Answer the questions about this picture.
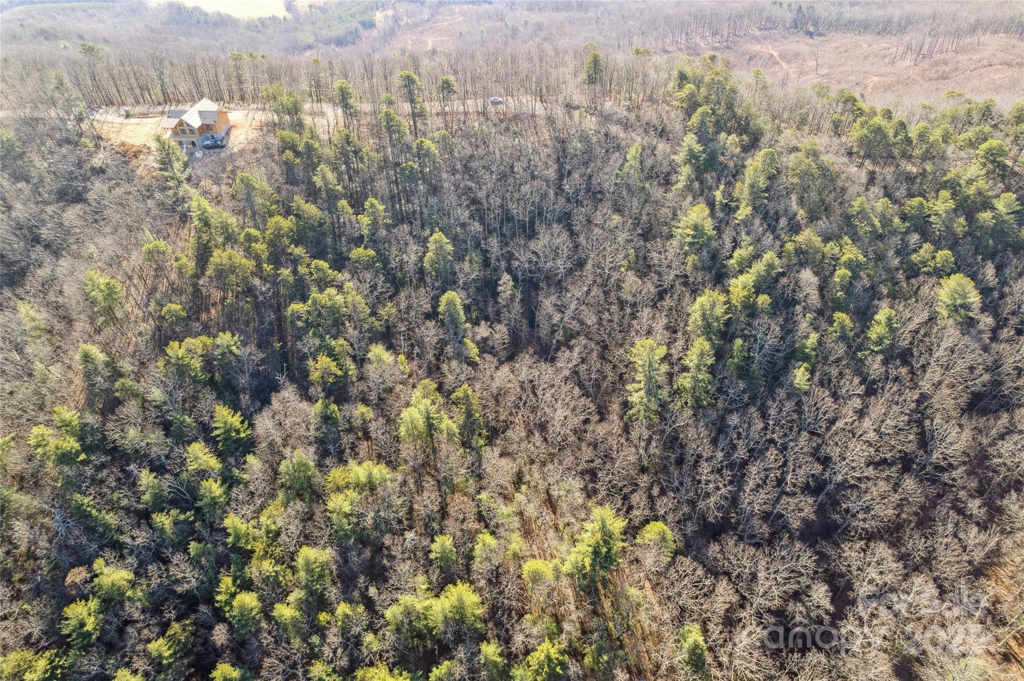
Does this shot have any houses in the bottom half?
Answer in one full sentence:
No, there's no house to be seen in the bottom half.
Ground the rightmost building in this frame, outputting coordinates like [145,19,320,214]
[159,100,226,150]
